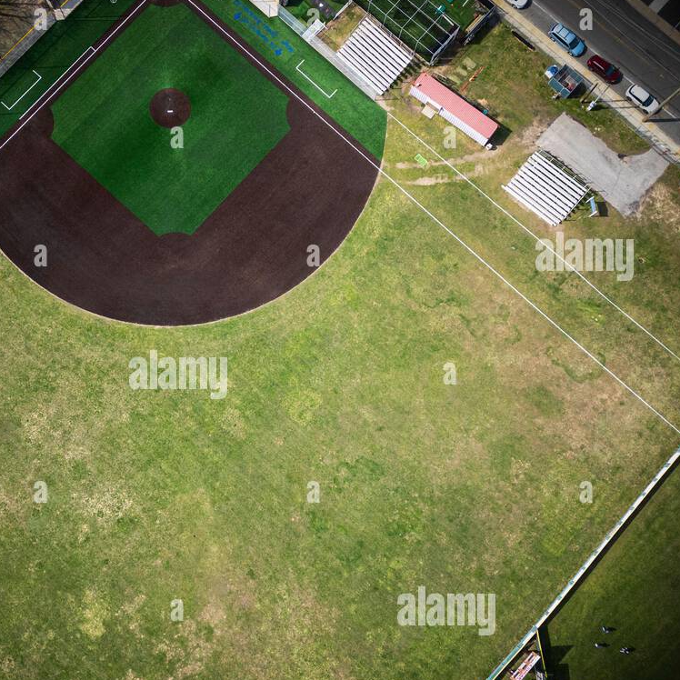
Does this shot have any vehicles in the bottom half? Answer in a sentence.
No, in the bottom half there is no vehicle.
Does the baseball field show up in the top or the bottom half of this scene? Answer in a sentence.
The baseball field is in the top half of the image.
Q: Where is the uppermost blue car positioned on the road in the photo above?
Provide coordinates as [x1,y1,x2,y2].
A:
[548,24,584,57]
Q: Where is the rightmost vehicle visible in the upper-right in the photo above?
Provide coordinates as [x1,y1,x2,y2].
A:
[625,84,657,112]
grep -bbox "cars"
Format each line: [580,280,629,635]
[548,24,584,57]
[507,0,528,9]
[584,53,621,85]
[625,84,657,112]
